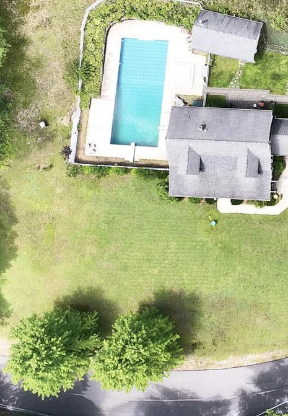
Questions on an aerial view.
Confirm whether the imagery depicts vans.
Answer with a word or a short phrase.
No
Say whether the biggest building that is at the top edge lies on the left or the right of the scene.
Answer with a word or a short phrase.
right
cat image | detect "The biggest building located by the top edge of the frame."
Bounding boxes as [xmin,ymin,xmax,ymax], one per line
[192,9,264,64]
